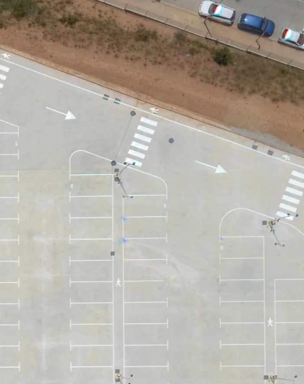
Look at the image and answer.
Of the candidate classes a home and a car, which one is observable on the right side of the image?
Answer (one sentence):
You can see a car on the right side of the image.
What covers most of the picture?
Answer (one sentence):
Most of the picture is covered by paved ground.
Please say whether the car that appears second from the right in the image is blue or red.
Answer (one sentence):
From above, the car that appears second from the right appears blue.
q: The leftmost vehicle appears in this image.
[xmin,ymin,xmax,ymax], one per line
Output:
[198,0,236,25]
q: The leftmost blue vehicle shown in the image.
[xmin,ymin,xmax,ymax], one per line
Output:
[236,13,276,37]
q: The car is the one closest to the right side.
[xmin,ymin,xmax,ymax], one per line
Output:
[277,27,304,50]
